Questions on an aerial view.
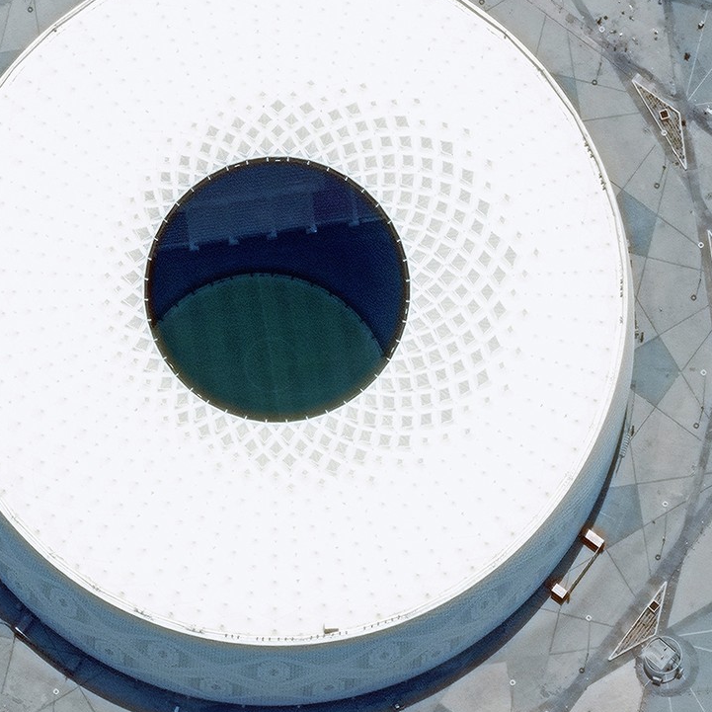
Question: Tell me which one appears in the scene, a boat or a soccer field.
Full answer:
It is a soccer field that can be seen here.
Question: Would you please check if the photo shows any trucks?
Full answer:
No, the photo shows no truck.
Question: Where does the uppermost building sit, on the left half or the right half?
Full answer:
It is on the right.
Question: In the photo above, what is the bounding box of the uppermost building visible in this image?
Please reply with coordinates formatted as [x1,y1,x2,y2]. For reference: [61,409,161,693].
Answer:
[552,530,604,605]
